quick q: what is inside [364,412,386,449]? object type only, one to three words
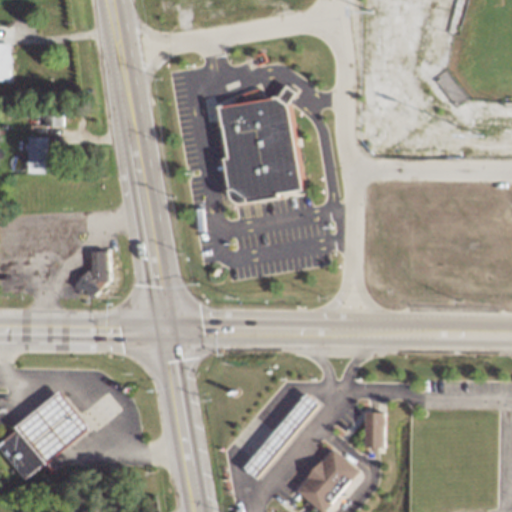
house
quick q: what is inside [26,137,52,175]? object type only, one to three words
house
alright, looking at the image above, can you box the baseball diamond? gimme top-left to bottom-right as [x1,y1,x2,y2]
[448,0,512,100]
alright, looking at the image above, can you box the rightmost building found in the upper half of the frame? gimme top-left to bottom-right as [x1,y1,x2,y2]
[217,86,308,204]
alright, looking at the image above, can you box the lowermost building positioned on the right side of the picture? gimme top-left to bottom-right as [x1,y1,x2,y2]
[298,452,360,512]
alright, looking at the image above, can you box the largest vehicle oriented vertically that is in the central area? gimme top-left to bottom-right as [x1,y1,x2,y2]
[196,203,210,241]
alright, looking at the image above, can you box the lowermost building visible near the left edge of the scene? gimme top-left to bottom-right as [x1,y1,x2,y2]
[0,430,48,480]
